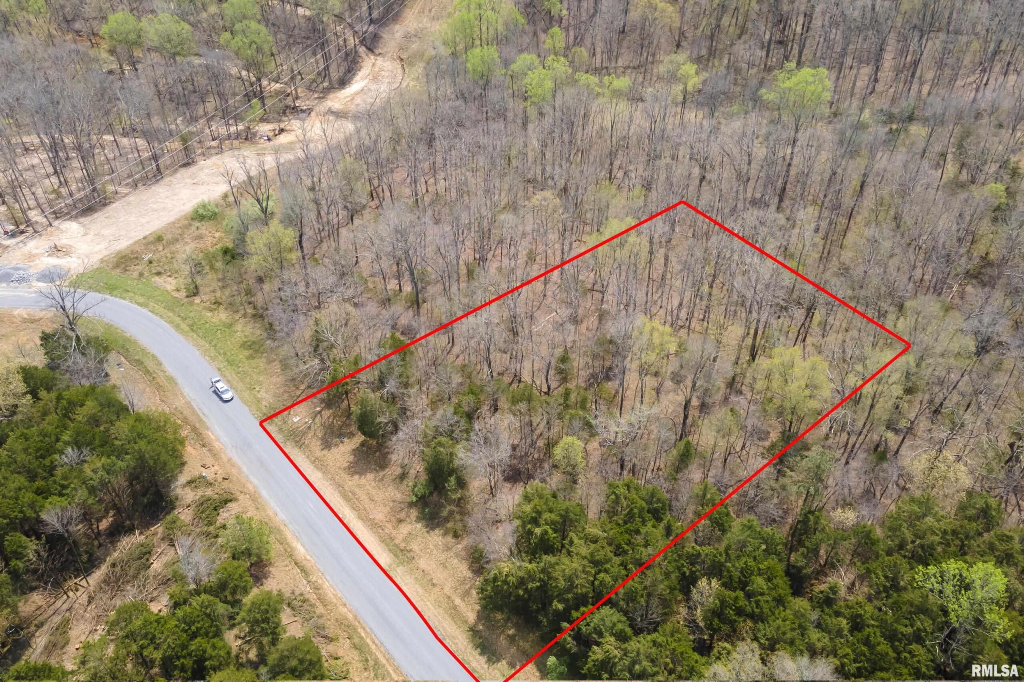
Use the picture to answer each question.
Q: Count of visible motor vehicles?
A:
1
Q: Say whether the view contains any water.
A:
No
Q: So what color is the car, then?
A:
white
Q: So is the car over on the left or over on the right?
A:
left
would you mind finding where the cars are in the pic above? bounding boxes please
[208,376,234,399]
